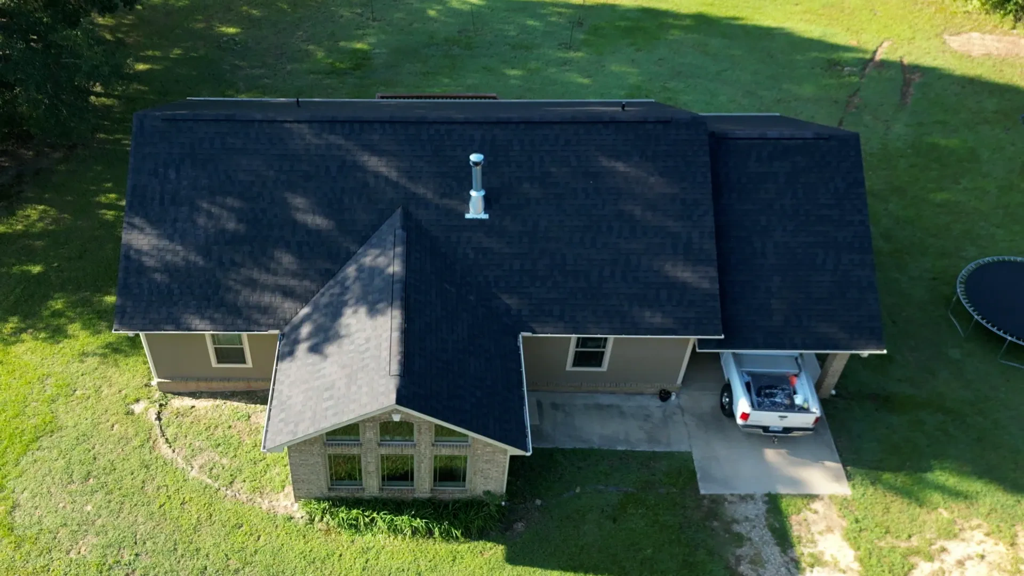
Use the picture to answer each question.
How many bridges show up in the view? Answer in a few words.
0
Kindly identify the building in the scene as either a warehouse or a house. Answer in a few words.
house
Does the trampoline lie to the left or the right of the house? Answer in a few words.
right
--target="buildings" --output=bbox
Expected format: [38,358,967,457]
[112,96,888,502]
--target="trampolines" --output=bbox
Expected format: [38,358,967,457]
[944,255,1024,373]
